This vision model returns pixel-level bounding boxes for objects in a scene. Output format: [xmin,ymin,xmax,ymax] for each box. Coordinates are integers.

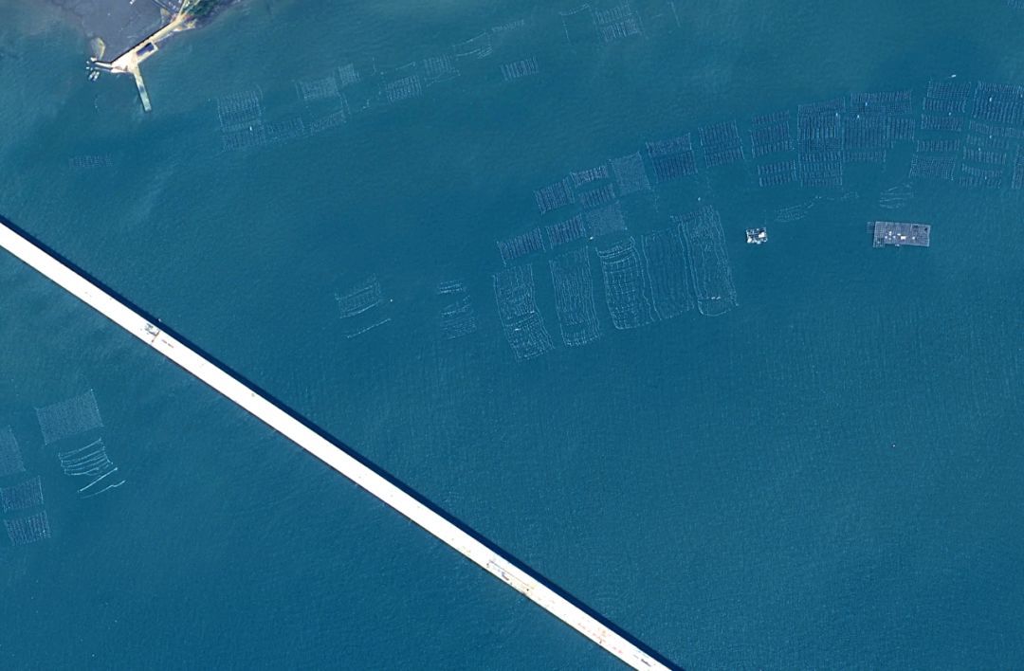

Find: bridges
[0,222,671,671]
